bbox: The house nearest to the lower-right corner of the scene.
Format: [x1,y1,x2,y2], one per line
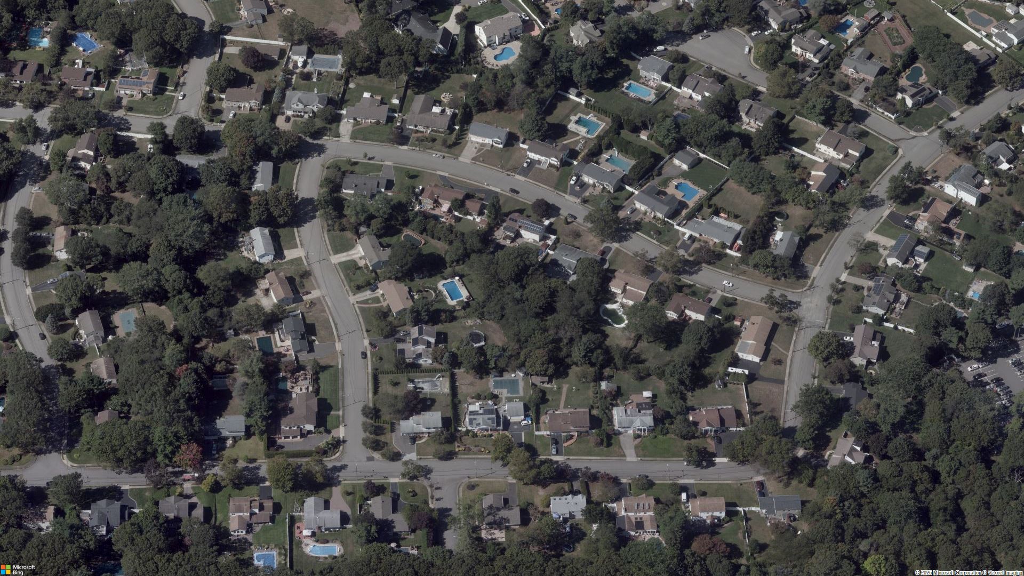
[828,437,863,475]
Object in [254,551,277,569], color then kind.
blue swimming pool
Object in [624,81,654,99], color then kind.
blue swimming pool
